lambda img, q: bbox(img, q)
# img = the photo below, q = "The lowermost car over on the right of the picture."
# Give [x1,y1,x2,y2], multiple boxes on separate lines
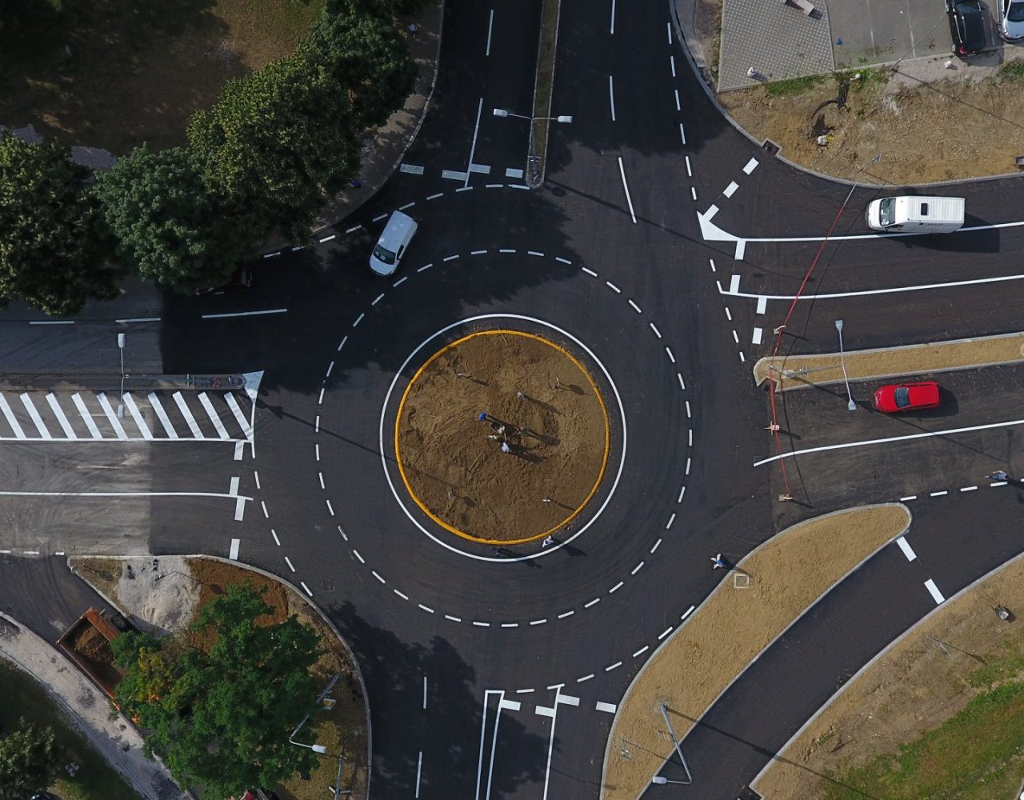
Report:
[872,380,944,414]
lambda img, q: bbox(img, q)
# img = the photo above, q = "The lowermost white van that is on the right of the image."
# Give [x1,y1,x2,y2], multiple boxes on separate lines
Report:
[862,192,968,233]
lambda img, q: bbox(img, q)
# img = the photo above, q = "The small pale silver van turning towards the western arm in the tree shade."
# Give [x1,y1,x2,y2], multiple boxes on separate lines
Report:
[368,210,419,279]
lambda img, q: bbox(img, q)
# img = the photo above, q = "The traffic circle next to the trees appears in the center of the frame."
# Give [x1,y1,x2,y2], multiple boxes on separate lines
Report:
[317,250,692,626]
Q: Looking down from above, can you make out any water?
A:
No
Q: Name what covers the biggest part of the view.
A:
paved ground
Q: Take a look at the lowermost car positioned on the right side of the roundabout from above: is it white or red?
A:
red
